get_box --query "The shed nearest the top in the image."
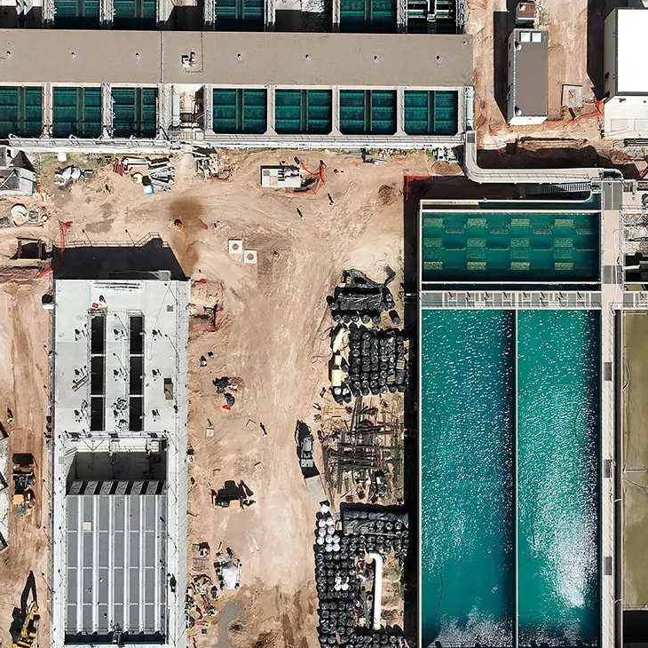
[514,2,537,25]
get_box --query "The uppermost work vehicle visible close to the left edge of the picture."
[9,472,33,519]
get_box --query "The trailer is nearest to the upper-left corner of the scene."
[260,166,301,188]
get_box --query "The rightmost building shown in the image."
[604,8,648,106]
